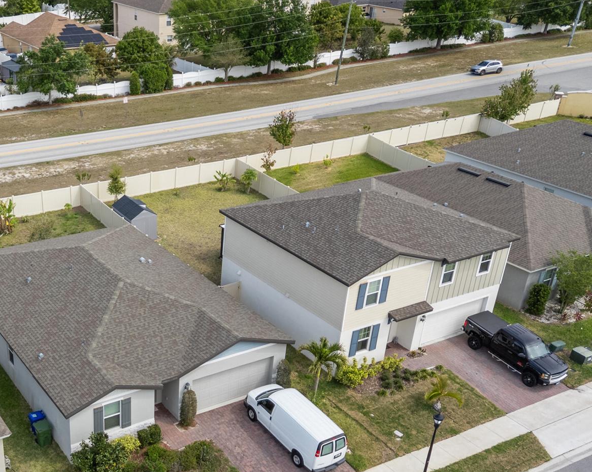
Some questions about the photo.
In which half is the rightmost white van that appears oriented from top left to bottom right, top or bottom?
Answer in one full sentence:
The bottom half of the photo is where the rightmost white van that appears oriented from top left to bottom right is.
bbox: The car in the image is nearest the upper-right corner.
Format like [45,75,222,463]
[474,59,505,75]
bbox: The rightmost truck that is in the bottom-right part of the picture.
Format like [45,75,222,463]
[463,313,575,387]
